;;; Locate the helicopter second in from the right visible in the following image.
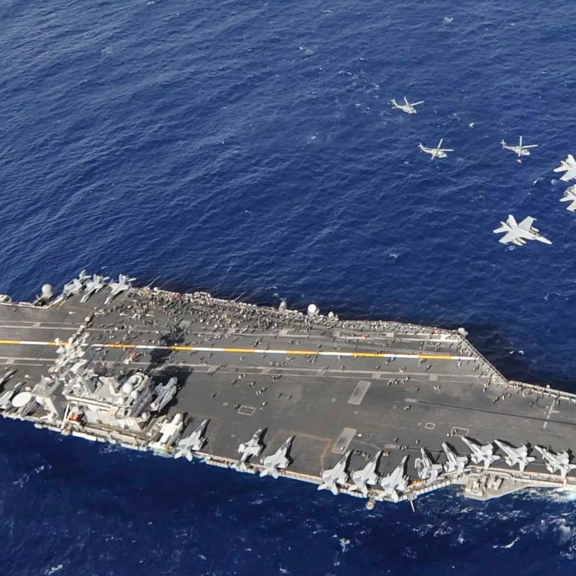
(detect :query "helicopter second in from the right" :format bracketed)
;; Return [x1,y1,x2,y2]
[421,136,456,161]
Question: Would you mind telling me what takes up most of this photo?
water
